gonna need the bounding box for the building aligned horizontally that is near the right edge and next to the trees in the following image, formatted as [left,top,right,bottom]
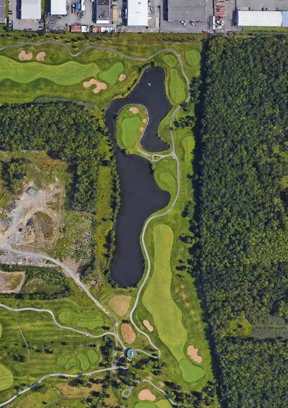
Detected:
[236,11,282,27]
